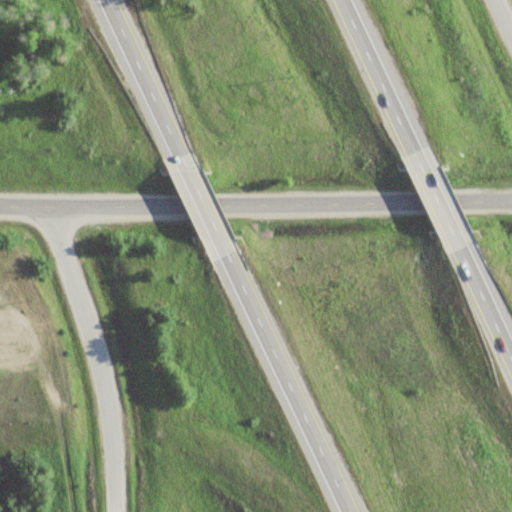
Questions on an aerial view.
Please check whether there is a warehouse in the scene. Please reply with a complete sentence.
No, the picture doesn't show any warehouse.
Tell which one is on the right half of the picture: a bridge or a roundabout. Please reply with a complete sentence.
The feature located on the right half of the picture is a bridge.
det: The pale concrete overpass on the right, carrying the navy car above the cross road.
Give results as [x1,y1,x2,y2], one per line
[393,144,488,256]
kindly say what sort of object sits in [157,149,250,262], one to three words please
bridge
